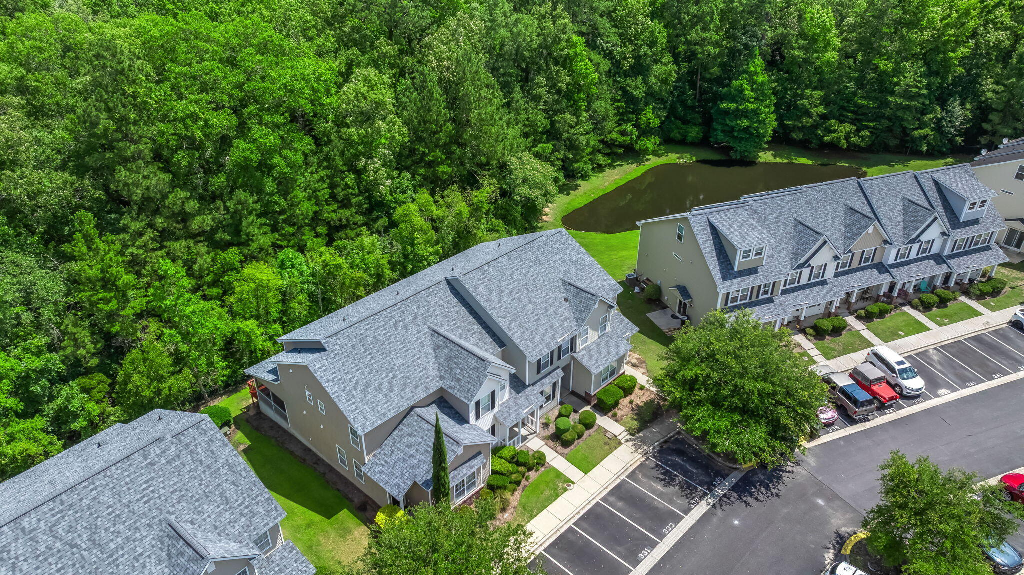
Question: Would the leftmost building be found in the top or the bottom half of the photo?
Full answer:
You can find the leftmost building in the bottom half.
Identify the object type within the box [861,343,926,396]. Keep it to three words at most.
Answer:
car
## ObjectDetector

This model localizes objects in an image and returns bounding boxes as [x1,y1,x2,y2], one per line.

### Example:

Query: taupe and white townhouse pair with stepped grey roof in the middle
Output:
[245,226,640,524]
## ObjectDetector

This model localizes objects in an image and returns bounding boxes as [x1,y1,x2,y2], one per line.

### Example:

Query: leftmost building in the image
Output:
[0,408,318,575]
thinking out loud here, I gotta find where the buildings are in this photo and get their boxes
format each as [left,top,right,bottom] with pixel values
[635,163,1013,338]
[245,226,640,524]
[0,408,318,575]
